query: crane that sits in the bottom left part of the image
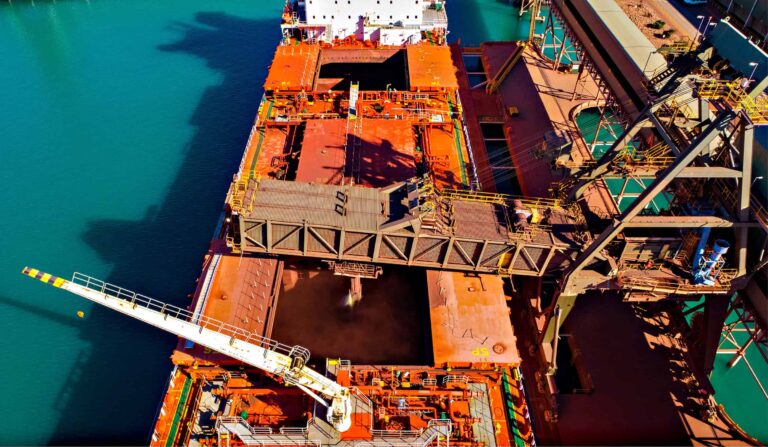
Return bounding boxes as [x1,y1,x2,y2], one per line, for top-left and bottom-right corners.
[20,266,372,442]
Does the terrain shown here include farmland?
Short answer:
No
